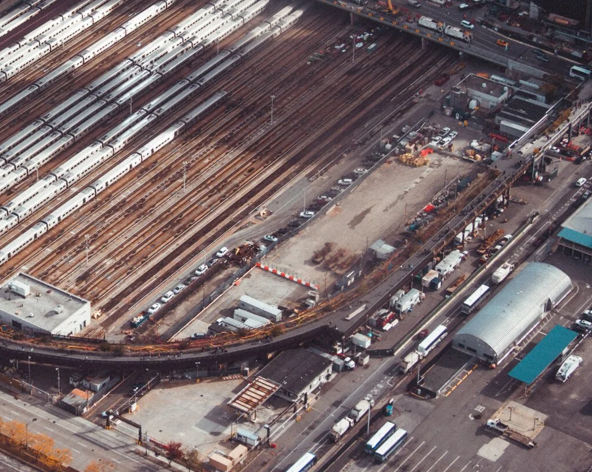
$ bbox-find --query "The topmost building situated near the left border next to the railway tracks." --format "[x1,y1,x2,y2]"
[0,273,89,333]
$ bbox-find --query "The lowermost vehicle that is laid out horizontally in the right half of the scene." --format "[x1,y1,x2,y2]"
[488,425,533,440]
